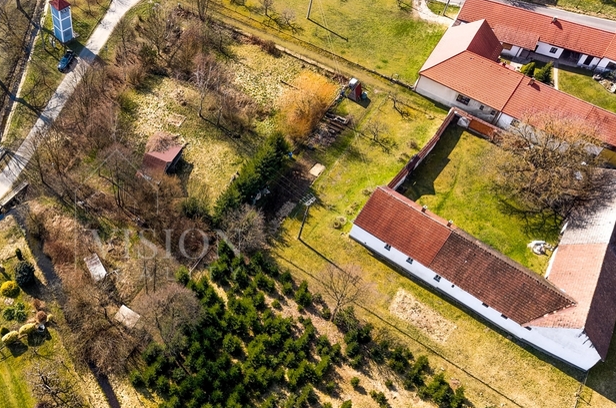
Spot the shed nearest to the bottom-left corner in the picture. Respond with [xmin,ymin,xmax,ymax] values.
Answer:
[84,253,106,282]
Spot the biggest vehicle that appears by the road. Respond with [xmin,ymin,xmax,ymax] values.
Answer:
[56,43,77,69]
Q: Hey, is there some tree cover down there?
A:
Yes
